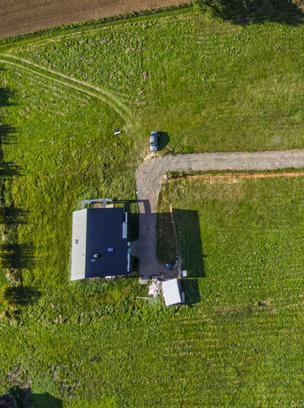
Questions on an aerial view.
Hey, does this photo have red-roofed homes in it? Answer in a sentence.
No, no red-roofed home is visible in the scene.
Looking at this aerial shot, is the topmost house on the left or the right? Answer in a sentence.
It is on the left.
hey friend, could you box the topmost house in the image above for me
[71,205,136,281]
